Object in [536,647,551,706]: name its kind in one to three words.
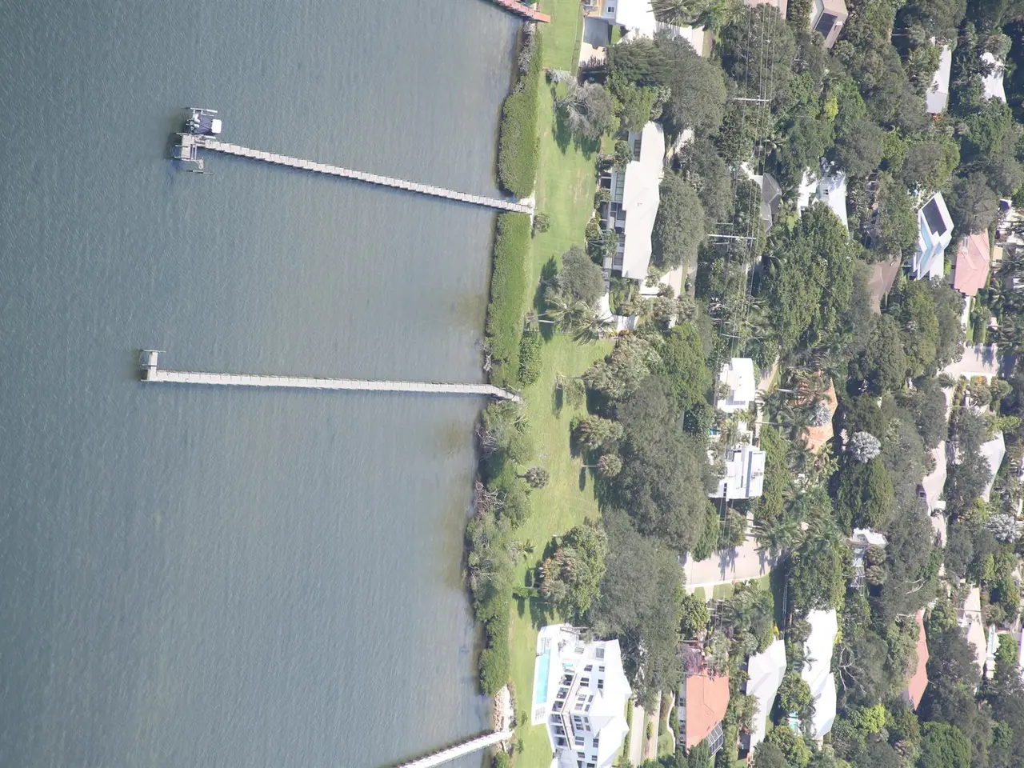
swimming pool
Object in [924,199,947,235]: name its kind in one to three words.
solar panel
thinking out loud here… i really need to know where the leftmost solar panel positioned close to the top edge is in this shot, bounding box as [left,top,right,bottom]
[817,11,837,36]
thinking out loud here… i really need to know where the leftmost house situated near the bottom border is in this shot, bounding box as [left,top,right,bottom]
[540,639,631,768]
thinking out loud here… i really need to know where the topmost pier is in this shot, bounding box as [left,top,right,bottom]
[482,0,550,25]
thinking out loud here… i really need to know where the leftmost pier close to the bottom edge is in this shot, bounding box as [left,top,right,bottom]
[385,727,510,768]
